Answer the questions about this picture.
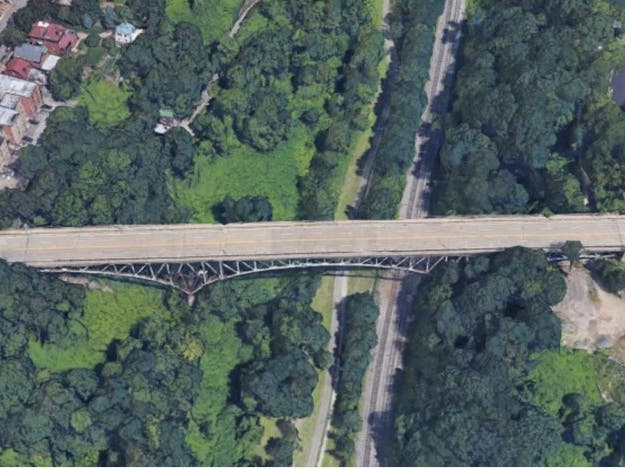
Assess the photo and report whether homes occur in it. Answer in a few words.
Yes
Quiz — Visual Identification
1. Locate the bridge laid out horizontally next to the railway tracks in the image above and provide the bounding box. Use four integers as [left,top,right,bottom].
[23,212,625,306]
